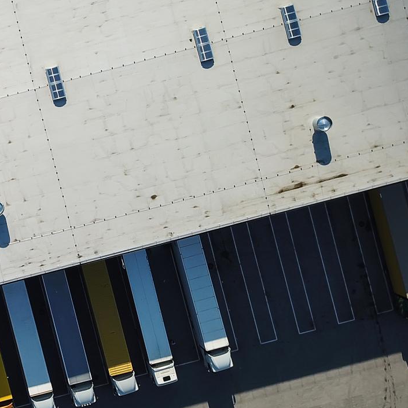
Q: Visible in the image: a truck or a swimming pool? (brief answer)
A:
truck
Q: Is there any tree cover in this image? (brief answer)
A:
No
